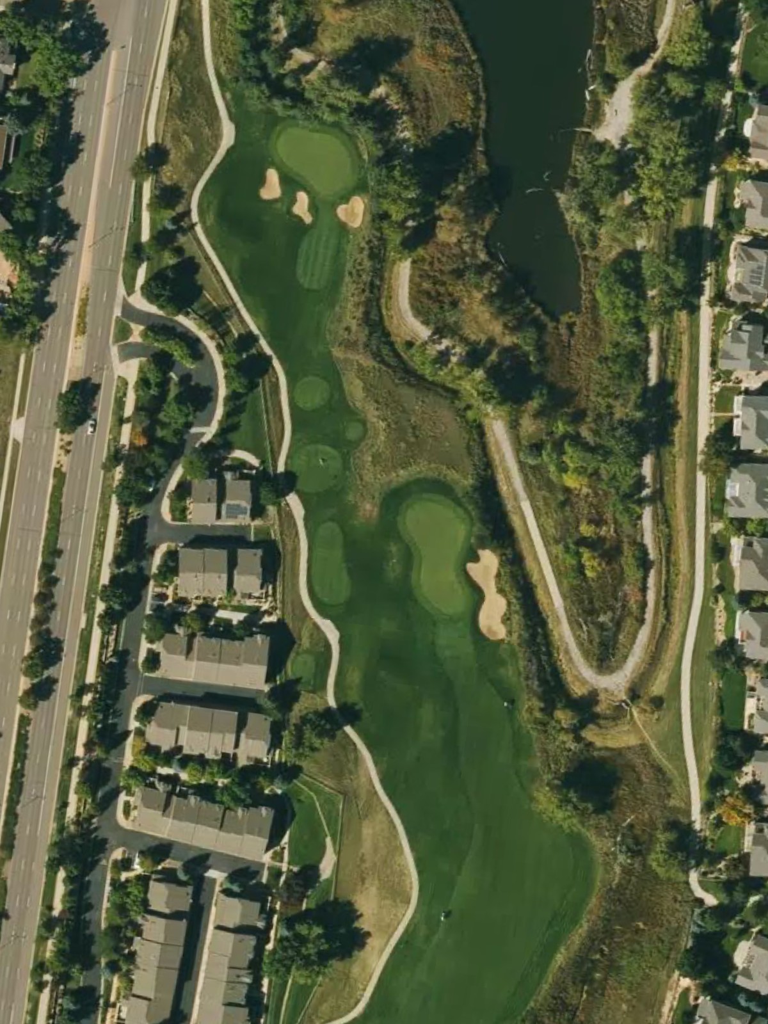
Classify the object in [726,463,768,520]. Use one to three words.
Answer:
house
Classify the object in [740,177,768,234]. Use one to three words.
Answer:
house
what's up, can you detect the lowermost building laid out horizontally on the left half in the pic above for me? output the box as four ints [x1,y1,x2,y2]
[130,786,276,861]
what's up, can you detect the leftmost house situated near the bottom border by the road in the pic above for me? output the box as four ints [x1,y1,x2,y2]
[123,877,192,1024]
